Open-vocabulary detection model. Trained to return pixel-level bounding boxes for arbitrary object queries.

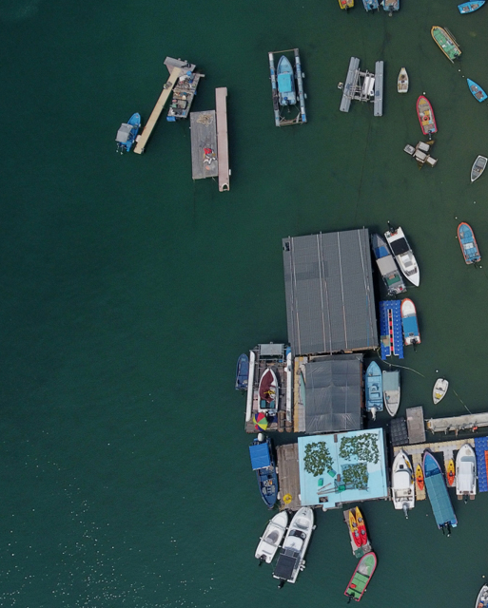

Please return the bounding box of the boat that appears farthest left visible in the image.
[110,112,141,160]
